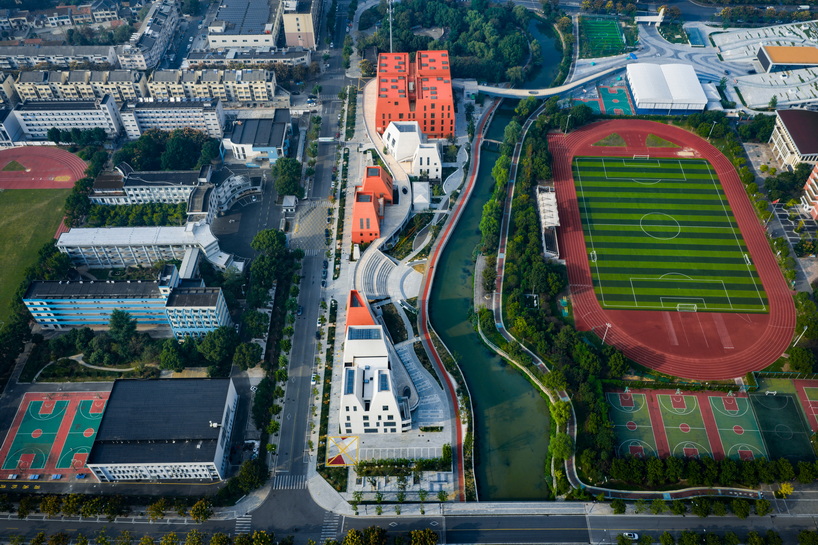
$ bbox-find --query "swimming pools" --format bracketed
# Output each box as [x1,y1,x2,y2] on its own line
[685,26,706,46]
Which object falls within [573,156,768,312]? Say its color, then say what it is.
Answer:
green soccer field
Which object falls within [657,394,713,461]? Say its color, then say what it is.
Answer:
green basketball court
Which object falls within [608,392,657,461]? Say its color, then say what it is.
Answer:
green basketball court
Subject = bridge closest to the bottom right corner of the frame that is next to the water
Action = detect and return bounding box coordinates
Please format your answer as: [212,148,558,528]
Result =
[441,500,590,544]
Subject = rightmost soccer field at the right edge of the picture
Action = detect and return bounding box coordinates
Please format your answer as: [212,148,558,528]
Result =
[749,392,816,464]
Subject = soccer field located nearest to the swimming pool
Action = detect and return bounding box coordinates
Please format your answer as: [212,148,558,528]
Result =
[582,16,631,54]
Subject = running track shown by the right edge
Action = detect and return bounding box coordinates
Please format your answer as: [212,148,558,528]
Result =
[548,117,795,380]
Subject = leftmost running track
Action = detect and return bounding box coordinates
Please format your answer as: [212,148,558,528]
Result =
[0,148,89,376]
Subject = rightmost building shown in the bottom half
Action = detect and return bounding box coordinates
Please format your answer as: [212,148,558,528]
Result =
[339,291,415,433]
